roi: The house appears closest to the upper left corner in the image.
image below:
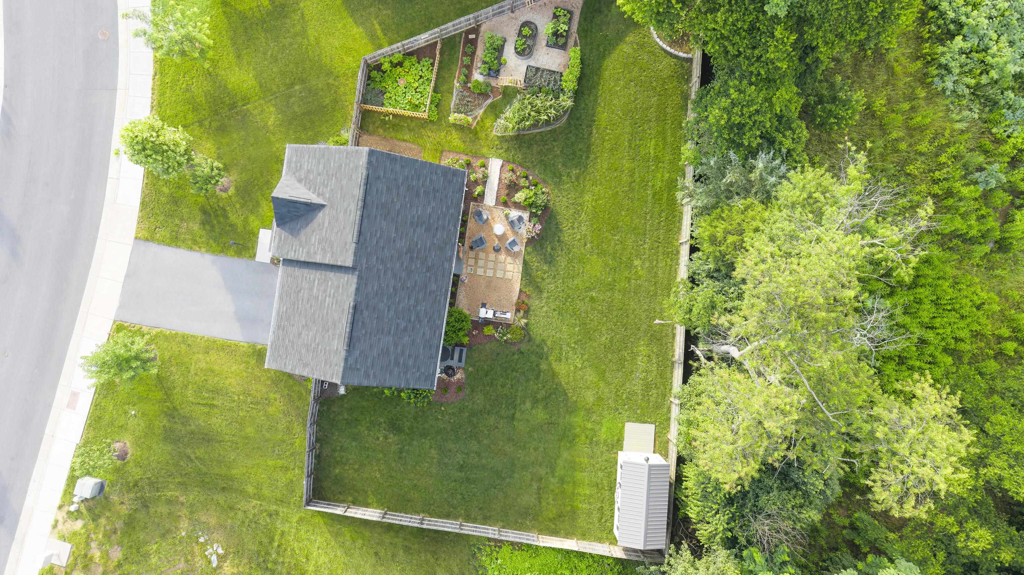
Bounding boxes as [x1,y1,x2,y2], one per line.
[263,143,470,392]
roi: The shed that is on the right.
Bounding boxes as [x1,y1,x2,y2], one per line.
[613,451,669,552]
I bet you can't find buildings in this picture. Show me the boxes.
[263,143,470,392]
[613,451,669,552]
